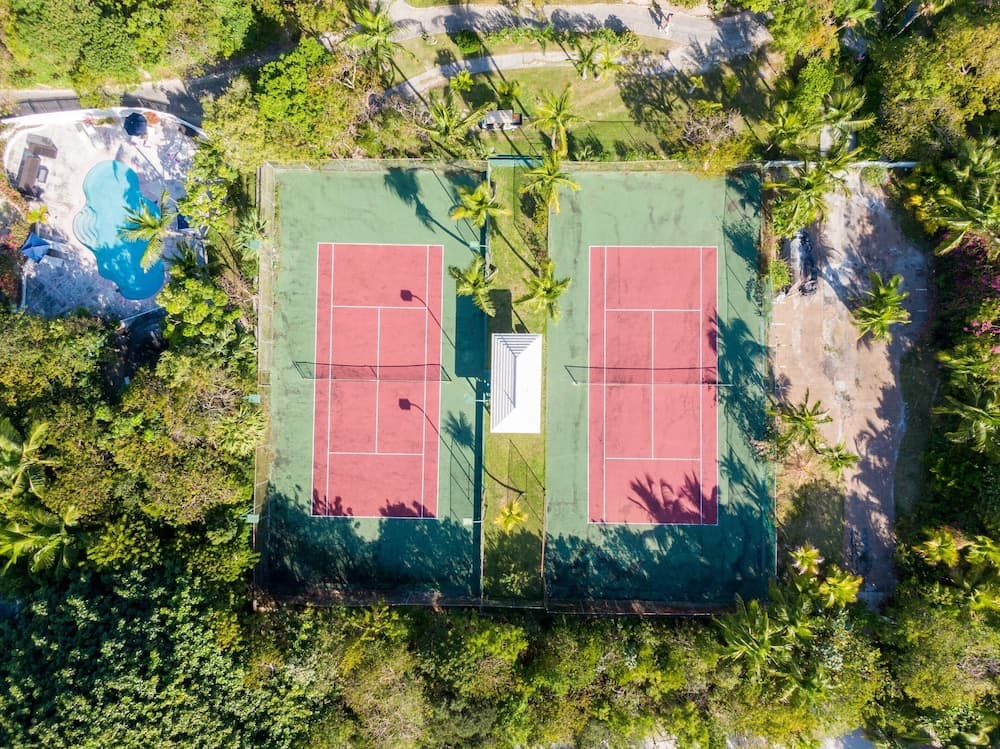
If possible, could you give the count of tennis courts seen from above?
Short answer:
2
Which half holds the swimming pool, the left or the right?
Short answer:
left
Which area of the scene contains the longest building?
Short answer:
center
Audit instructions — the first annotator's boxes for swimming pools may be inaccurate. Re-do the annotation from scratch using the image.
[71,156,168,302]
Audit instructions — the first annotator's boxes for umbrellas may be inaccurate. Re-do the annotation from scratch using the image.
[23,233,56,263]
[176,212,195,229]
[124,112,152,139]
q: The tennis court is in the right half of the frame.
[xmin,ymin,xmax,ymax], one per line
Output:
[545,171,769,599]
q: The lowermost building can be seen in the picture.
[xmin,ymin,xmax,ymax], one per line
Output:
[492,334,542,434]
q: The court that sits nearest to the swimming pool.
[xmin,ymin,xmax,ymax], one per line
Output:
[267,168,488,595]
